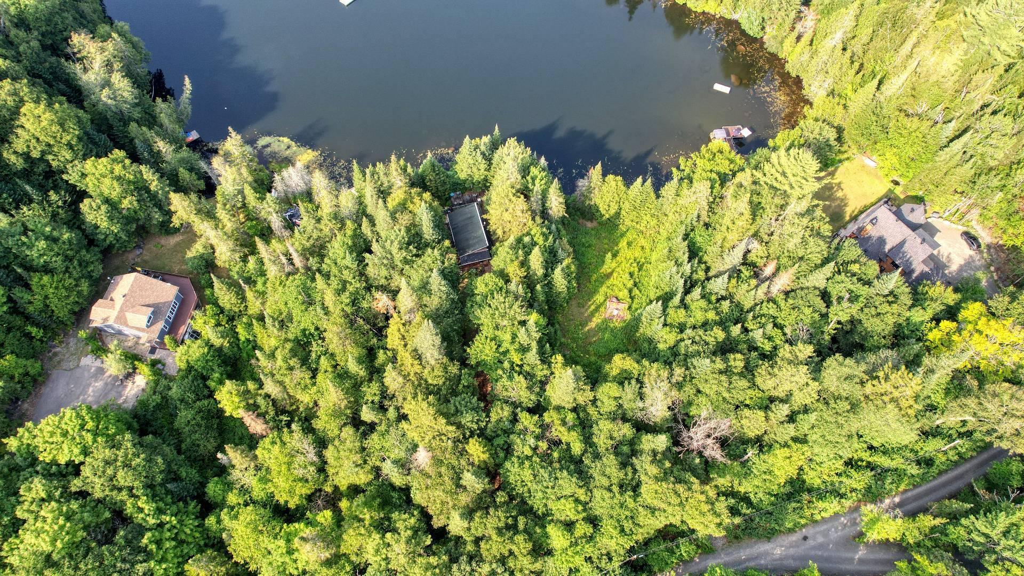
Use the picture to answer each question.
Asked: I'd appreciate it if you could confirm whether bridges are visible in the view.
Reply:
No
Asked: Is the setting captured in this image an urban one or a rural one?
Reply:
rural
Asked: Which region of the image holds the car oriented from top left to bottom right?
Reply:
right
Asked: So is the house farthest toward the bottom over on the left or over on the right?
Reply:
left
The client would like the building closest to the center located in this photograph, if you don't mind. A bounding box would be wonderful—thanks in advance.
[446,201,492,271]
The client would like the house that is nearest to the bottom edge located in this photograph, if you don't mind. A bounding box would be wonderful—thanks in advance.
[90,273,189,352]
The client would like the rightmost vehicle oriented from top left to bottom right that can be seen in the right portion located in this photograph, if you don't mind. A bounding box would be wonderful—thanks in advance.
[960,227,986,251]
